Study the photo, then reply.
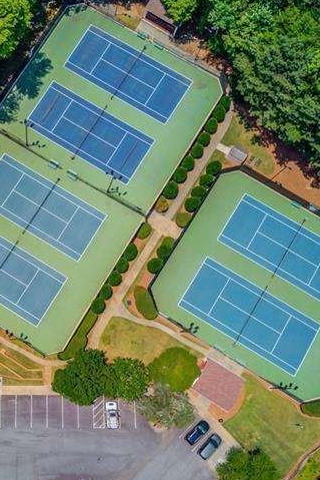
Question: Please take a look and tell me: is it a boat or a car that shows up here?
car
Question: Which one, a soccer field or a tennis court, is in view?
tennis court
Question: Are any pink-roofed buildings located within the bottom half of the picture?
Yes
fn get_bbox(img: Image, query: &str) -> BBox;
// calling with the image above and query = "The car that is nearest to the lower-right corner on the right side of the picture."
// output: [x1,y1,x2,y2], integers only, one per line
[198,433,224,461]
